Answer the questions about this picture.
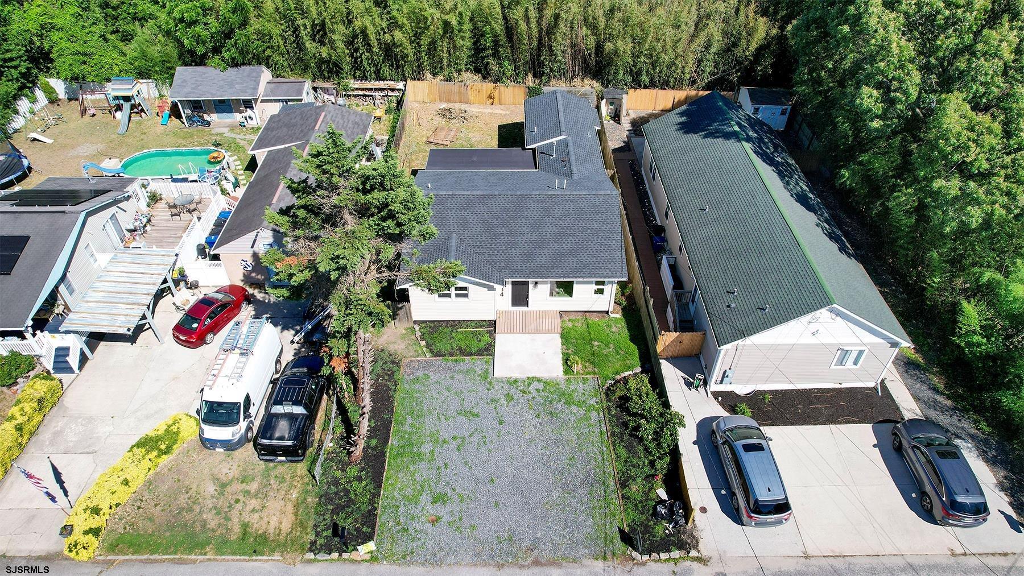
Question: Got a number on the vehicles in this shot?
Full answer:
There are 5 vehicles in the image.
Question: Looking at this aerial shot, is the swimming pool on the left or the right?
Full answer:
The swimming pool is on the left side of the image.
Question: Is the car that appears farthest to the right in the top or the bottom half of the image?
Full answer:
The car that appears farthest to the right sits in the bottom half of the picture.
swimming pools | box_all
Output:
[118,147,239,193]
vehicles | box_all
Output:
[717,420,792,531]
[190,322,281,454]
[894,421,987,531]
[163,284,253,353]
[254,356,329,465]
